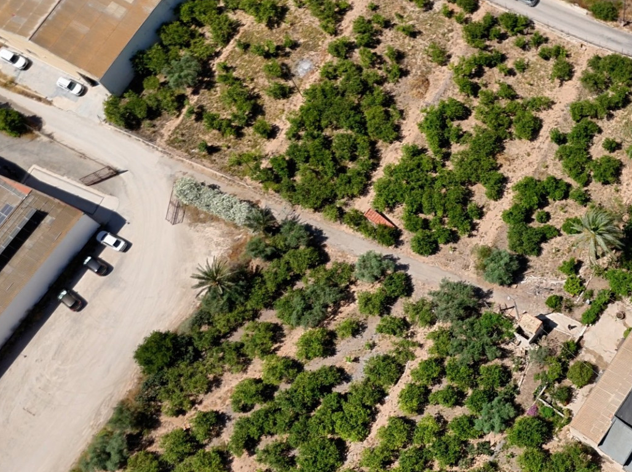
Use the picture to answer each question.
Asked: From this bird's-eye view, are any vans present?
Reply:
Yes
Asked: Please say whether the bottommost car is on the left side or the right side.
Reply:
left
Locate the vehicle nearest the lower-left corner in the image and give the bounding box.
[53,286,88,315]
